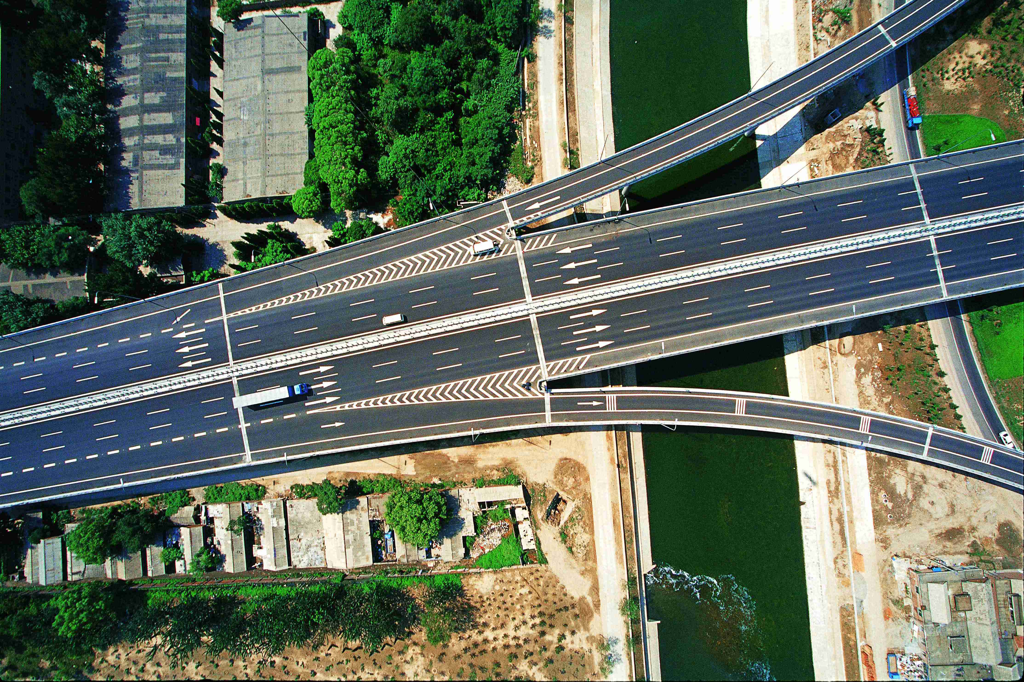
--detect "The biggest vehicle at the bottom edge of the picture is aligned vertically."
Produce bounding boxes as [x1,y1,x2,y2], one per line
[886,654,900,679]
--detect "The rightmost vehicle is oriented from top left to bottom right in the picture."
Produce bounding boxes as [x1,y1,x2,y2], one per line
[997,430,1012,447]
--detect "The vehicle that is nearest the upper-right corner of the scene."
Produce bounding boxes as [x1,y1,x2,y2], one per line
[901,88,922,126]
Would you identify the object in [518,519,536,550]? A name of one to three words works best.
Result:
shed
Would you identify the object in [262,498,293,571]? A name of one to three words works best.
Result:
house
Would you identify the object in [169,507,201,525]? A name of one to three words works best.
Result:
house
